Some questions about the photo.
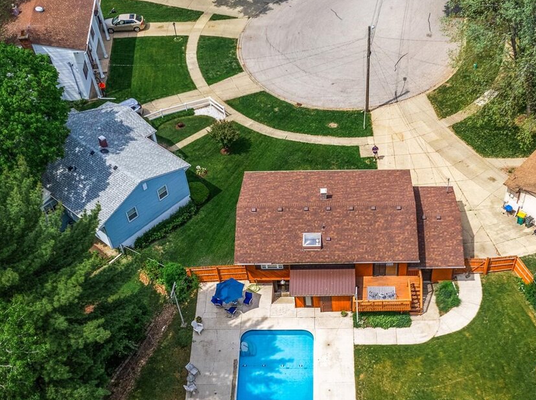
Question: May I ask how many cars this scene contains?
two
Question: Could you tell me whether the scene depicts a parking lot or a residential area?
residential area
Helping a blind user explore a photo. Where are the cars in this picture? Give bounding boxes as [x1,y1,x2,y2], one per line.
[104,14,149,35]
[109,92,150,116]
